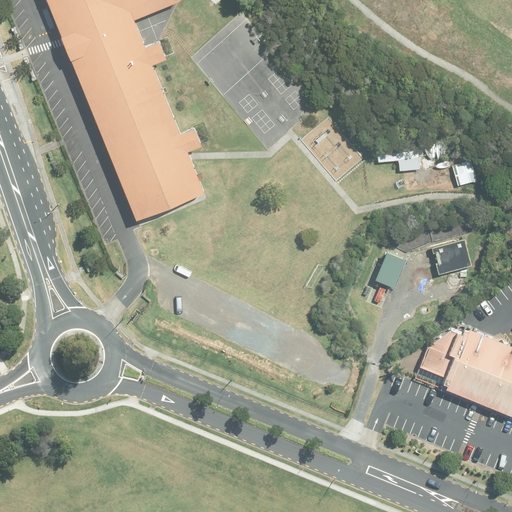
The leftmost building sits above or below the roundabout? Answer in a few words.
above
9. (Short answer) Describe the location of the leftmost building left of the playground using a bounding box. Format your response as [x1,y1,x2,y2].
[46,0,204,222]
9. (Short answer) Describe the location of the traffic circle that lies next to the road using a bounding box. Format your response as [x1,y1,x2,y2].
[50,328,106,384]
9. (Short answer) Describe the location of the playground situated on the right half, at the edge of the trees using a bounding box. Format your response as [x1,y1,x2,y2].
[302,118,362,181]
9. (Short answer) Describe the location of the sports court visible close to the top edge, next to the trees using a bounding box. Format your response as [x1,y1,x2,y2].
[191,12,304,150]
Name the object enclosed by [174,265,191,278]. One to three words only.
vehicle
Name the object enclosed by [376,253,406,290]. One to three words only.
shed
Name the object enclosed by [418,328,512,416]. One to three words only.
building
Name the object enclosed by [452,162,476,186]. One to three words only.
shed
